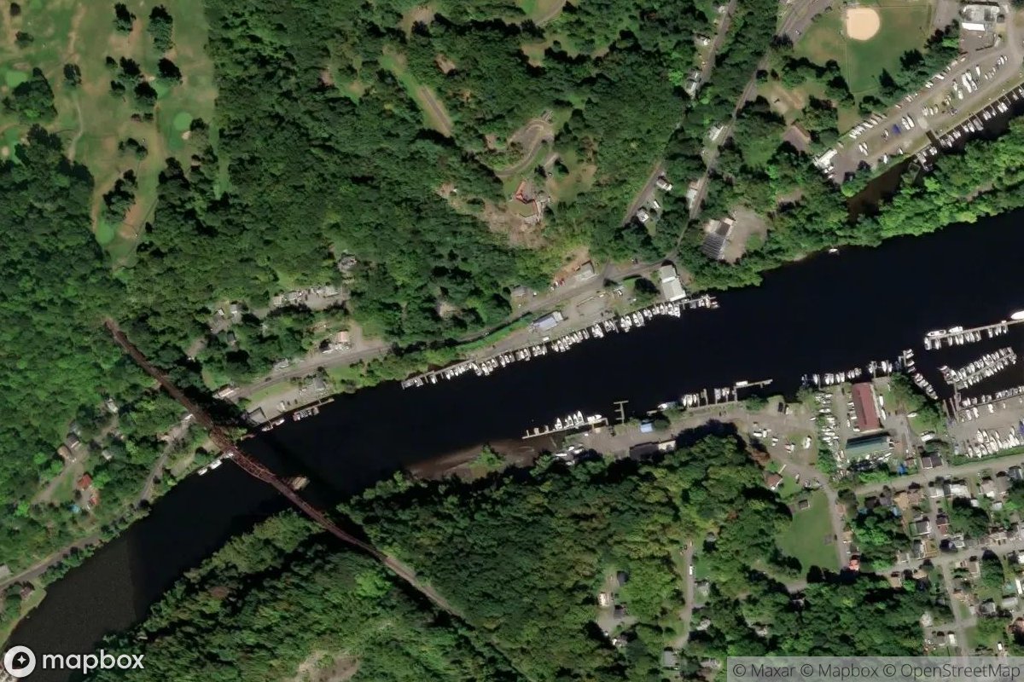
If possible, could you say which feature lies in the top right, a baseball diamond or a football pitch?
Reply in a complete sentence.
There is a baseball diamond in the top right.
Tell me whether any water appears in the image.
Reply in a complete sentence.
Yes, water can be seen from above here.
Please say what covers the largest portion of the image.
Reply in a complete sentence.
The bulk of the photo consists of trees.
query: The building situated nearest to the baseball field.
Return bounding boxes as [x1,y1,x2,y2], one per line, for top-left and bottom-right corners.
[962,5,1001,21]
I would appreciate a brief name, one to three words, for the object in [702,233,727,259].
building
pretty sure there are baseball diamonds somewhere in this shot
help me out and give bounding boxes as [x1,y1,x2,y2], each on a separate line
[839,1,930,92]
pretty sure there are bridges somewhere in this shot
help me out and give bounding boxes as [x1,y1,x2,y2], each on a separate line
[103,320,387,559]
